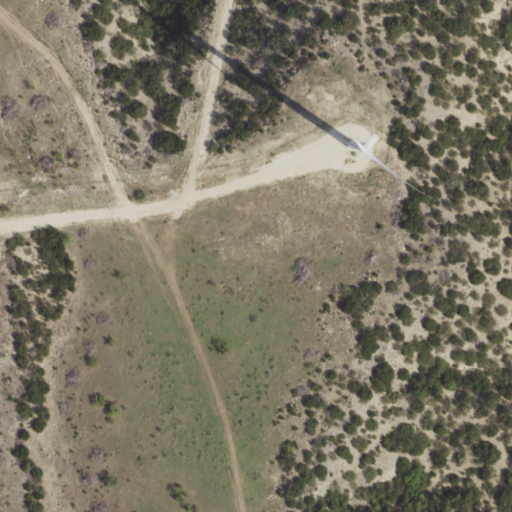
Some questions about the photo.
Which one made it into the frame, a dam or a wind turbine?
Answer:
wind turbine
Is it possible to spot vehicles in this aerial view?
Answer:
No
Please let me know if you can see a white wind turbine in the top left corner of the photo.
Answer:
No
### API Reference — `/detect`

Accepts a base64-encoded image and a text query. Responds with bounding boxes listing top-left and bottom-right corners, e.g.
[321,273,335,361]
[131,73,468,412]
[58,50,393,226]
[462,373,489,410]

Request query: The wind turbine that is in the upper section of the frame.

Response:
[315,114,438,199]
